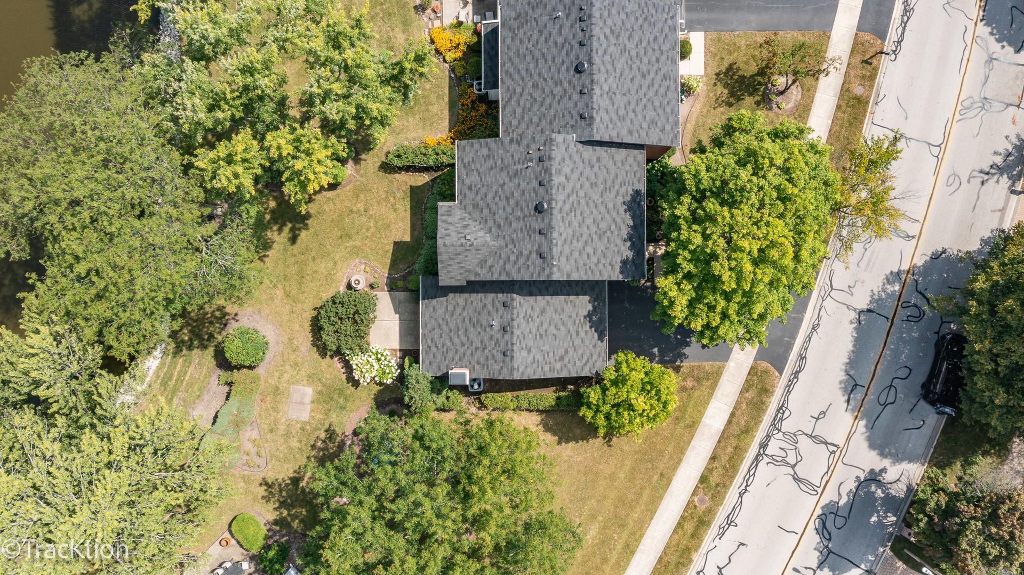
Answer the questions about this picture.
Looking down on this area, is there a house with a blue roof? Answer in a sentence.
No, I can see no house with a blue roof in this picture.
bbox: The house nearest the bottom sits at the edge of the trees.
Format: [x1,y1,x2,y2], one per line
[418,132,648,384]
